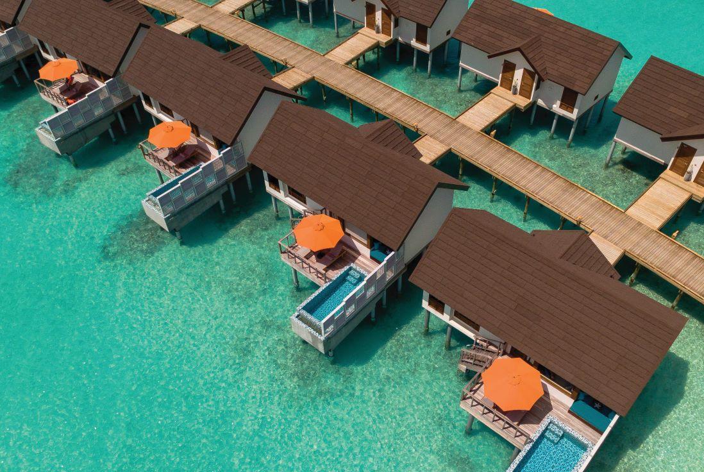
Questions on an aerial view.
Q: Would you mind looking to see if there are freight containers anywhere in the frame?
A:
No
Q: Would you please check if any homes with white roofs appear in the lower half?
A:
No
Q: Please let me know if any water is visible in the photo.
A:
Yes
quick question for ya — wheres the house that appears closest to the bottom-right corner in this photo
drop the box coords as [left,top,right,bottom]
[409,207,688,472]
